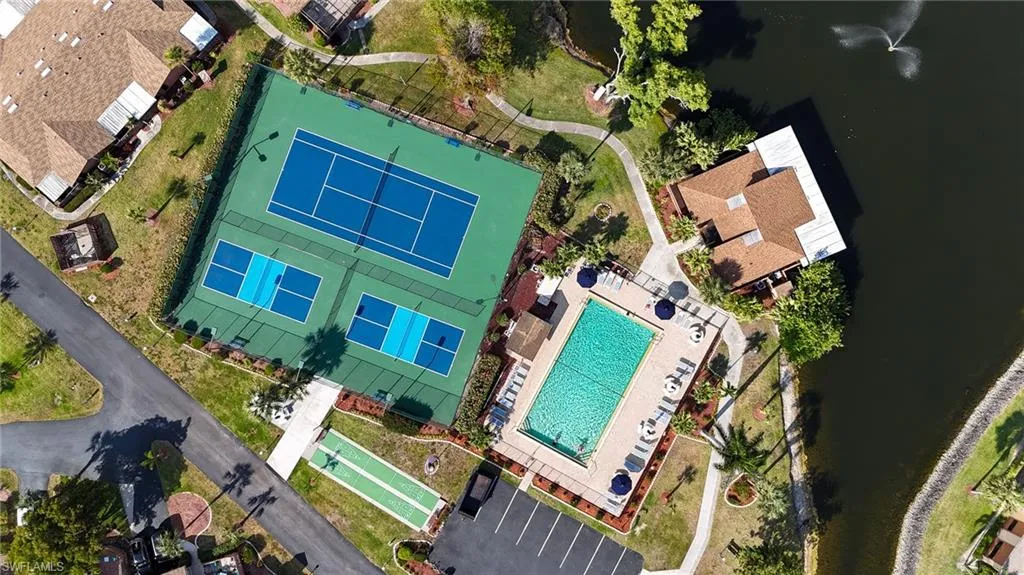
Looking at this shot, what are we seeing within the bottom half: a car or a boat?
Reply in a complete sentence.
It is a car that can be seen within the bottom half.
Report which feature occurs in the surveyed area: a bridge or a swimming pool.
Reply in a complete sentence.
This aerial view contains a swimming pool.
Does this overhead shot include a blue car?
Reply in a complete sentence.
No, there appears to be no blue car in this shot.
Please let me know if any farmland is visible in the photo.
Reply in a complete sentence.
No, there is no farmland in the image.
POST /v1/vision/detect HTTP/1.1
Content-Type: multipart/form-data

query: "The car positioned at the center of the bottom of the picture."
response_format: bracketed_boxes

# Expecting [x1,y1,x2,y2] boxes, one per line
[463,471,495,517]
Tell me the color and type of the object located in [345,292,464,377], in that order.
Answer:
blue sports court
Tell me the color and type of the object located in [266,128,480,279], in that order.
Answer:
blue tennis court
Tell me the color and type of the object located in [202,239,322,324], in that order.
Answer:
blue sports court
